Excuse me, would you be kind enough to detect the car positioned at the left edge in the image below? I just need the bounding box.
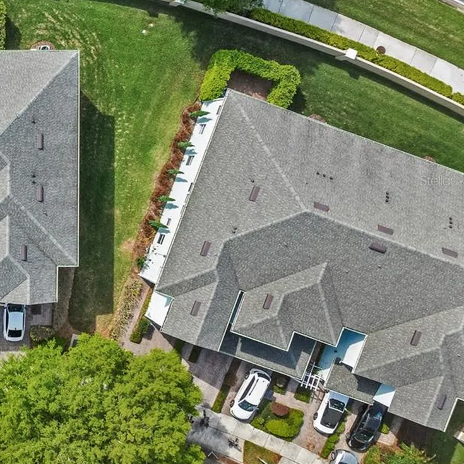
[1,307,26,341]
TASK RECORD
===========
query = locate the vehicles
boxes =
[343,395,388,453]
[224,363,272,425]
[324,444,356,464]
[310,388,352,438]
[1,307,26,341]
